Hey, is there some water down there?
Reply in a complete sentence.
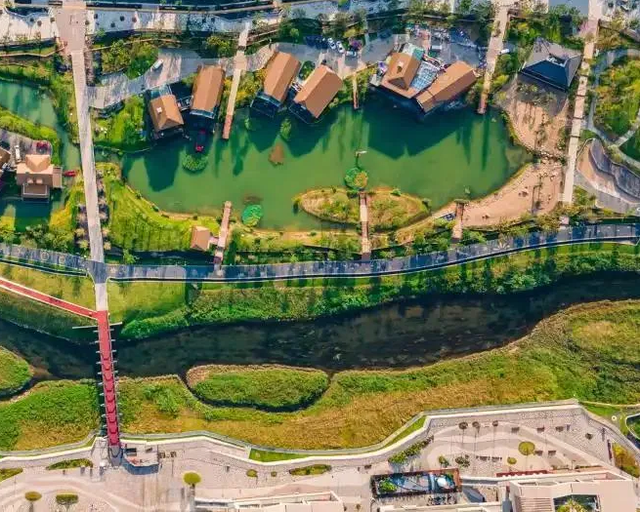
Yes, the picture does contain water.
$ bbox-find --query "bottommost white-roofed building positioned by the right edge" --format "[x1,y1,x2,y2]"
[454,466,640,512]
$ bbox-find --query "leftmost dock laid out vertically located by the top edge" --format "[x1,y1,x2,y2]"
[222,23,251,138]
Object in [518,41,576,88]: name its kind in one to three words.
house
